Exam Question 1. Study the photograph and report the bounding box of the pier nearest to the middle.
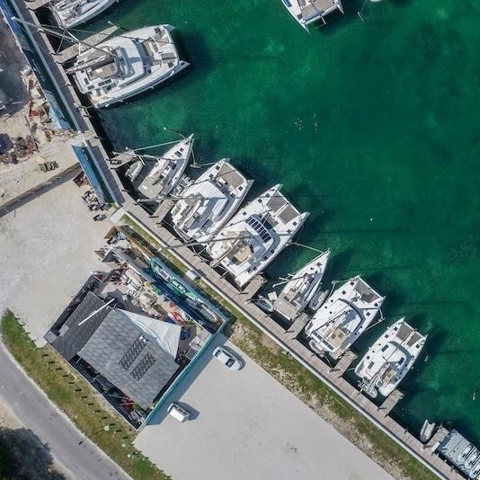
[240,274,267,298]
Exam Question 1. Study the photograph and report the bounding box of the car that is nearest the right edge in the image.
[213,345,242,372]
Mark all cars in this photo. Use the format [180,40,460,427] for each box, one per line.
[213,345,242,372]
[165,402,192,424]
